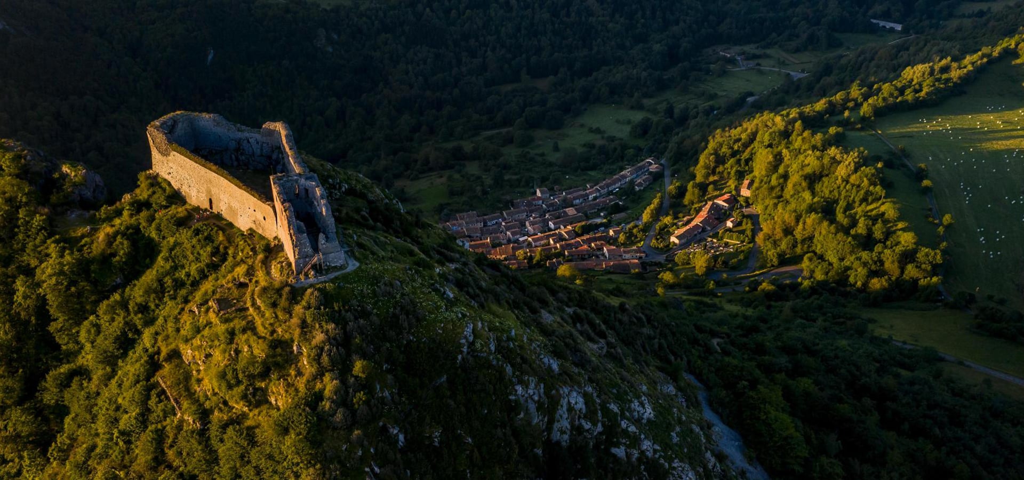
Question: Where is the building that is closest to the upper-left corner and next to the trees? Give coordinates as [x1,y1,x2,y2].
[146,110,349,275]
